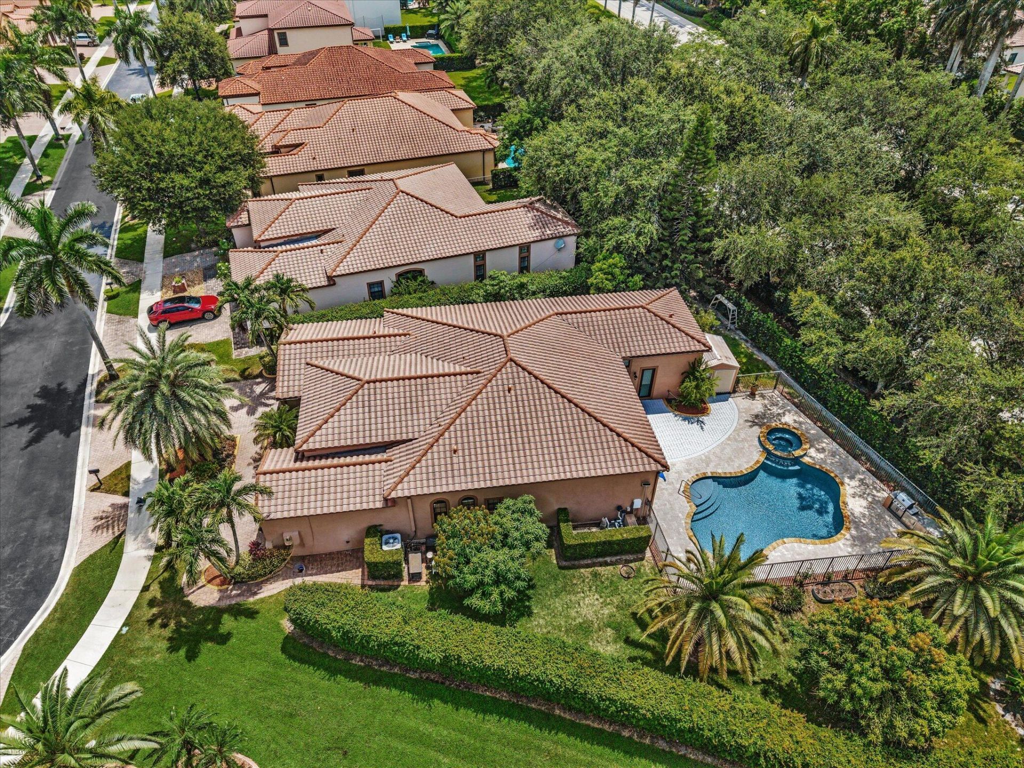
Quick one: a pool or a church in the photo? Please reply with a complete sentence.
Of the two, only a pool appears.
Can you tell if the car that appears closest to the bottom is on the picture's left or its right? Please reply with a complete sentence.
It is on the left.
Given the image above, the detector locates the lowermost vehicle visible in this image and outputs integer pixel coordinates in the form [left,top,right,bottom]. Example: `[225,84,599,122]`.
[145,290,223,329]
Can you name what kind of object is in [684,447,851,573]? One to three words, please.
swimming pool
